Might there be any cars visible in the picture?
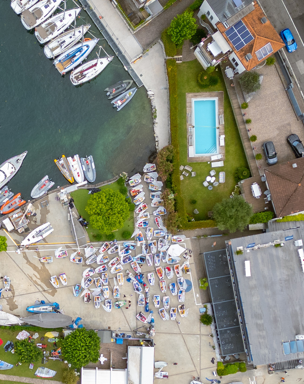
Yes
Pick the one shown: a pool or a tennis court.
pool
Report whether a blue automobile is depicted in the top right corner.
Yes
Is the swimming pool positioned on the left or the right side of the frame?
right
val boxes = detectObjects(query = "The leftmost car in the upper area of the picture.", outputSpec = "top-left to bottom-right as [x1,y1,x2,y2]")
[262,139,278,166]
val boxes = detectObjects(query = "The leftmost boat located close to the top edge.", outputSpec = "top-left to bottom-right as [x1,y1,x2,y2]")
[8,0,37,20]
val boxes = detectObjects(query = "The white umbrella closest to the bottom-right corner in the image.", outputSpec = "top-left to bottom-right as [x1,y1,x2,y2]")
[168,245,186,257]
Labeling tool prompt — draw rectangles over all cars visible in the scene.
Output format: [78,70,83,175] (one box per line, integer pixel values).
[262,139,278,166]
[287,133,304,158]
[279,27,297,54]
